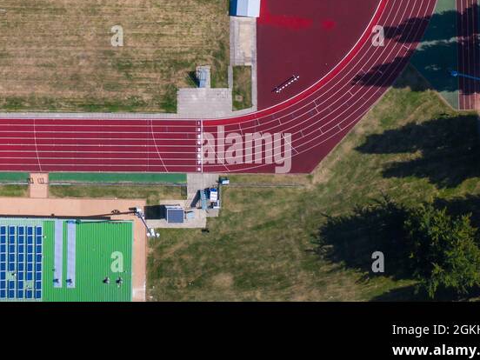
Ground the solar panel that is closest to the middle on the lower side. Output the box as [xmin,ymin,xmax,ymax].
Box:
[169,211,185,225]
